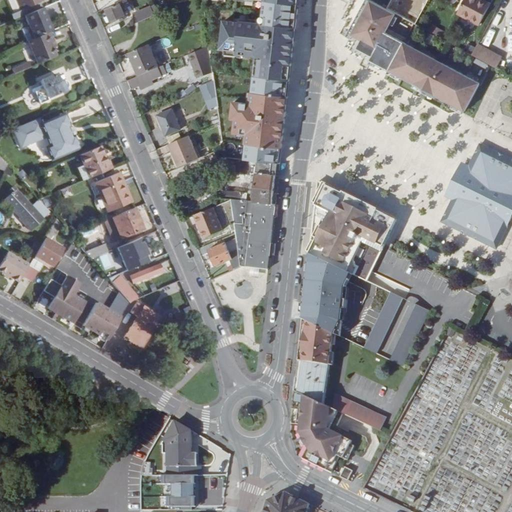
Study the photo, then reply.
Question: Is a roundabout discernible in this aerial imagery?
Yes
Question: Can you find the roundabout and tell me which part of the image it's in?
bottom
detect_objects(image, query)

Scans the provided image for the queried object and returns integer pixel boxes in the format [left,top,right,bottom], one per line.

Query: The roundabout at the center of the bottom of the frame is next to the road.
[215,378,288,451]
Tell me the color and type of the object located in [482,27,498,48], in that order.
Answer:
white vehicle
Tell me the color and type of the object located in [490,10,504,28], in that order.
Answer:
white vehicle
